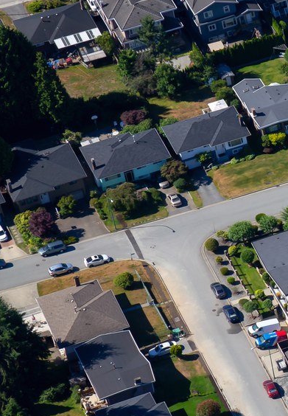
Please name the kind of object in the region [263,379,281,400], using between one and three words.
car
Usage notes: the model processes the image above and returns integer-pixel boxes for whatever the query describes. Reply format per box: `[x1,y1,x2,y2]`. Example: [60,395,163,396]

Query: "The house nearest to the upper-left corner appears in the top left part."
[16,1,107,69]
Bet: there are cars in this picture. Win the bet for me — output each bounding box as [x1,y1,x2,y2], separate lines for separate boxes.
[37,237,68,258]
[46,264,75,279]
[0,222,9,243]
[249,313,281,338]
[210,281,227,301]
[147,342,173,358]
[256,325,288,349]
[85,0,99,10]
[156,177,172,194]
[222,305,240,324]
[263,379,281,400]
[167,191,183,210]
[0,258,10,267]
[83,254,112,268]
